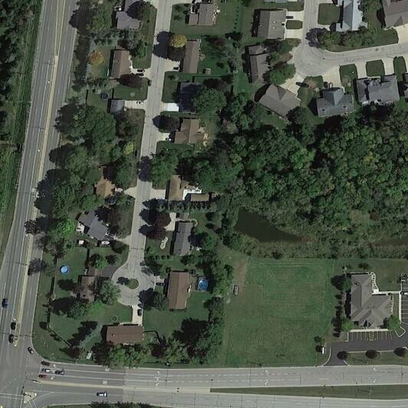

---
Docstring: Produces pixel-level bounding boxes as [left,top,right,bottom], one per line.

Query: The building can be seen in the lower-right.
[350,273,393,328]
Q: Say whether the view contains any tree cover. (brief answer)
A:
Yes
